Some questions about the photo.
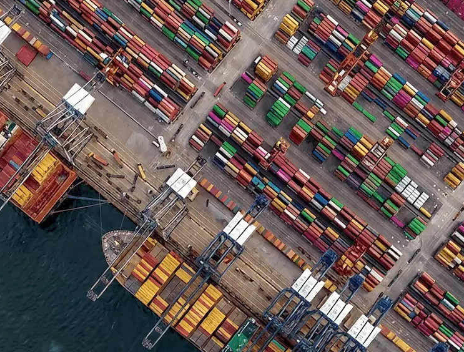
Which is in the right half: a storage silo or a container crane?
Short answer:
container crane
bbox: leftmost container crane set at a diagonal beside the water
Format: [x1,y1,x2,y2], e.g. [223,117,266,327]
[0,70,110,218]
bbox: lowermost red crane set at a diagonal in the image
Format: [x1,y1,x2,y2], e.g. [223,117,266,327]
[328,235,371,282]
